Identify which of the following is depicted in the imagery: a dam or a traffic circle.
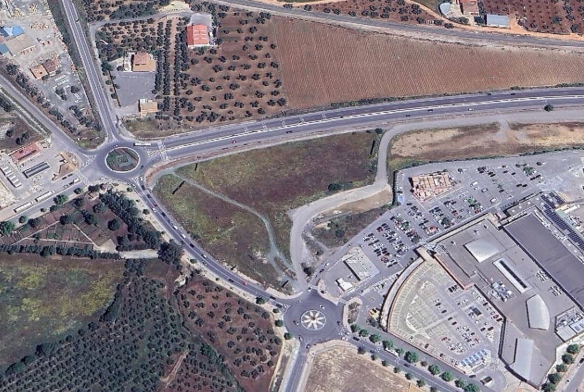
traffic circle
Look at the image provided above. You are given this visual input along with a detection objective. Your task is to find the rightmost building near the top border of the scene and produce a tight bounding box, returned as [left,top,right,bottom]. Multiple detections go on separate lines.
[485,15,509,30]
